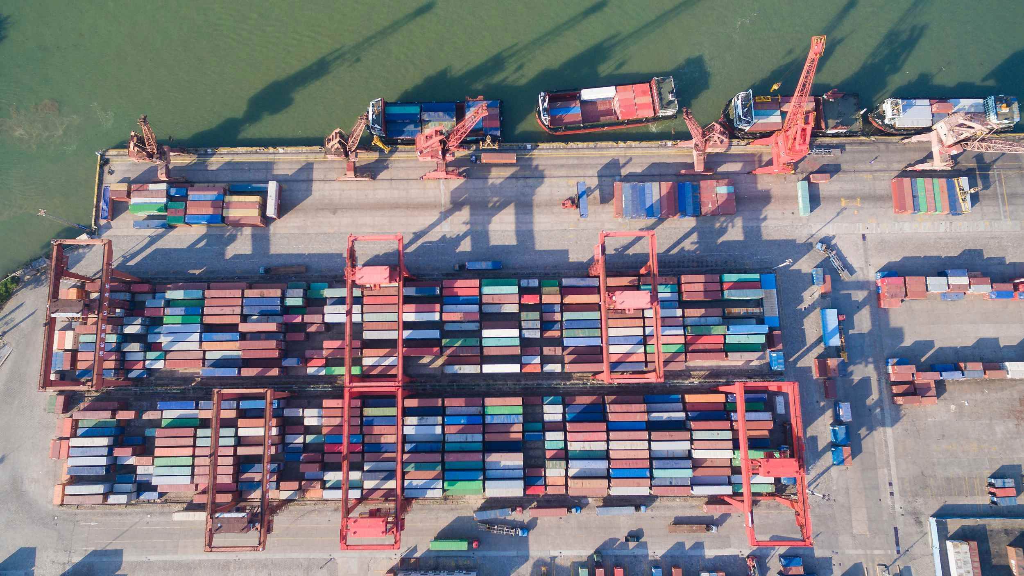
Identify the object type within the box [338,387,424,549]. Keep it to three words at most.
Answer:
container crane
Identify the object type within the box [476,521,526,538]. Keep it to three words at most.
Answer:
vehicle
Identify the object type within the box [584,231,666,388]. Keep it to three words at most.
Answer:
container crane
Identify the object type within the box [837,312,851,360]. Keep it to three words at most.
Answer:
vehicle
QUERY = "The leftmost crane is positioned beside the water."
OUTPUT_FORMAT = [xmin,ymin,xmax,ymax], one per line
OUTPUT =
[29,240,148,395]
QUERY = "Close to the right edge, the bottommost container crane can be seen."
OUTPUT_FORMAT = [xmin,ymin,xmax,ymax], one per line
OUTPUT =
[899,108,1024,212]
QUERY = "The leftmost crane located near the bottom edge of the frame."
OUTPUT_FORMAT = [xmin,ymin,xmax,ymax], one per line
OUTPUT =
[205,388,308,551]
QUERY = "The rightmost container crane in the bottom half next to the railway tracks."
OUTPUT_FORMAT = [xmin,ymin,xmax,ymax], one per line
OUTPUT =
[706,382,810,546]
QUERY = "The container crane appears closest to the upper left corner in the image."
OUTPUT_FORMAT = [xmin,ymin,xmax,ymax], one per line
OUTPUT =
[118,112,188,185]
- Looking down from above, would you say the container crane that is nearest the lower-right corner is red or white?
red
